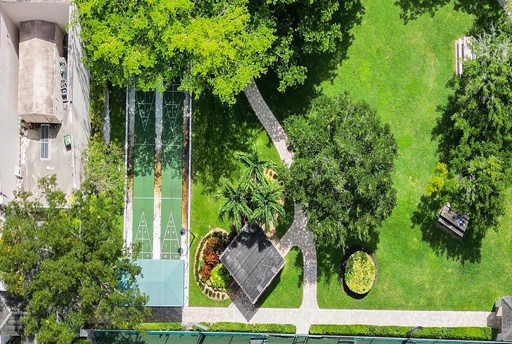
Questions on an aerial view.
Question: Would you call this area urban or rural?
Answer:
rural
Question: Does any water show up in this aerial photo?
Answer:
No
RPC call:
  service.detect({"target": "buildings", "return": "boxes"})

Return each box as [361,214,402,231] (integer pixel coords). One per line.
[220,222,286,304]
[19,20,62,122]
